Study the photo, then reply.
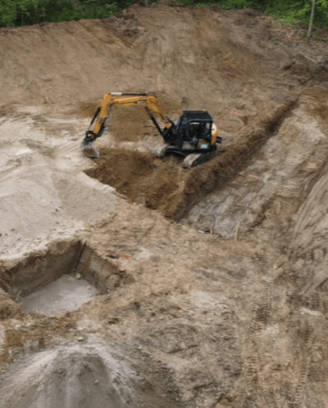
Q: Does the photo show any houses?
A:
No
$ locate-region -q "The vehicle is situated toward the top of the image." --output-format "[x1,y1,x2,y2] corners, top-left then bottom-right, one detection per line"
[80,90,229,173]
